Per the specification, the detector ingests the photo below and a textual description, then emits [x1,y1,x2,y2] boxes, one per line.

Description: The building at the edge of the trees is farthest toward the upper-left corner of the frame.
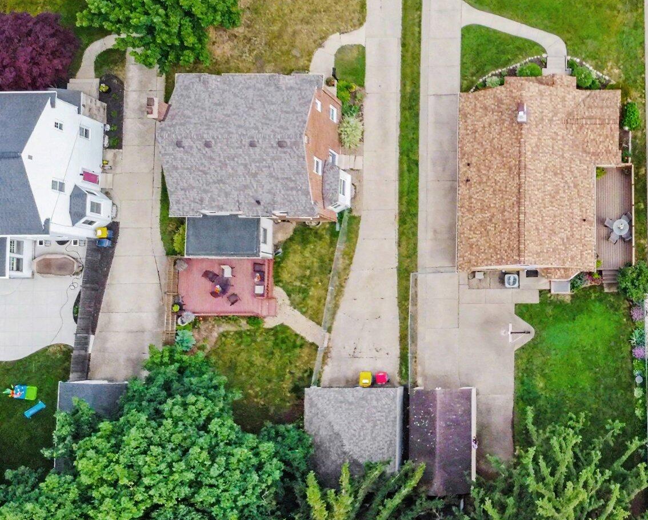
[0,90,114,280]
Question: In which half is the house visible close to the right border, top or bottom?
top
